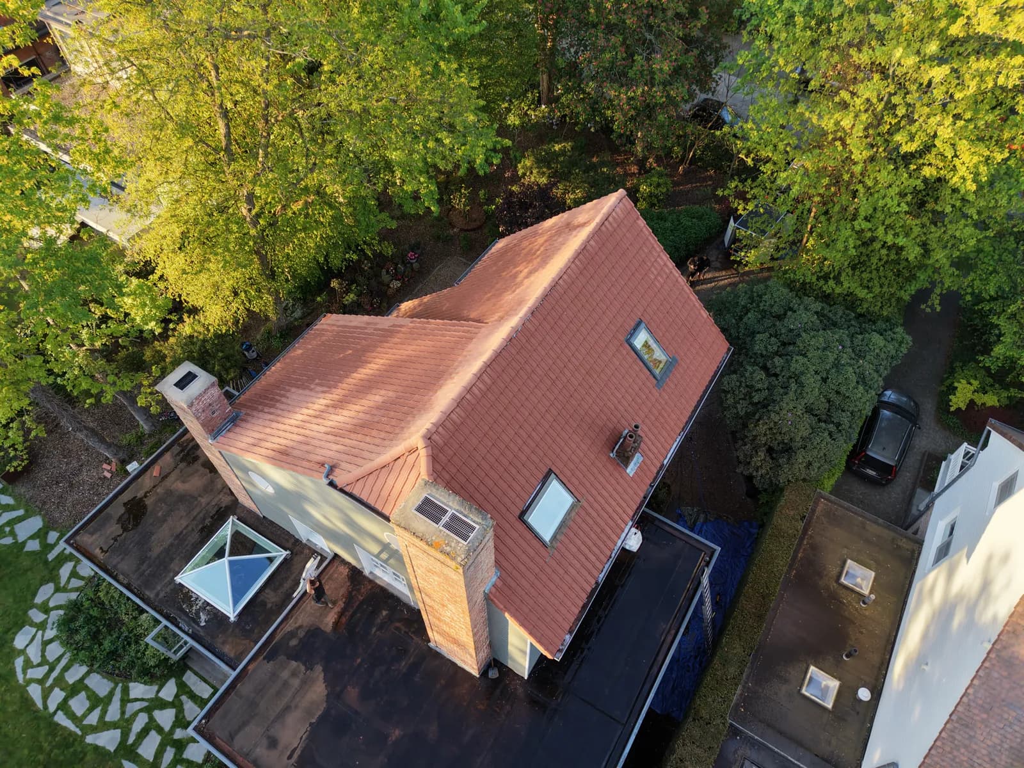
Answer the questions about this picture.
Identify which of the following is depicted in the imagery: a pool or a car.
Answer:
car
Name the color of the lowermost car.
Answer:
black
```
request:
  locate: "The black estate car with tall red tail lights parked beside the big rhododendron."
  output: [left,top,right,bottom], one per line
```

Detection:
[838,377,919,481]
